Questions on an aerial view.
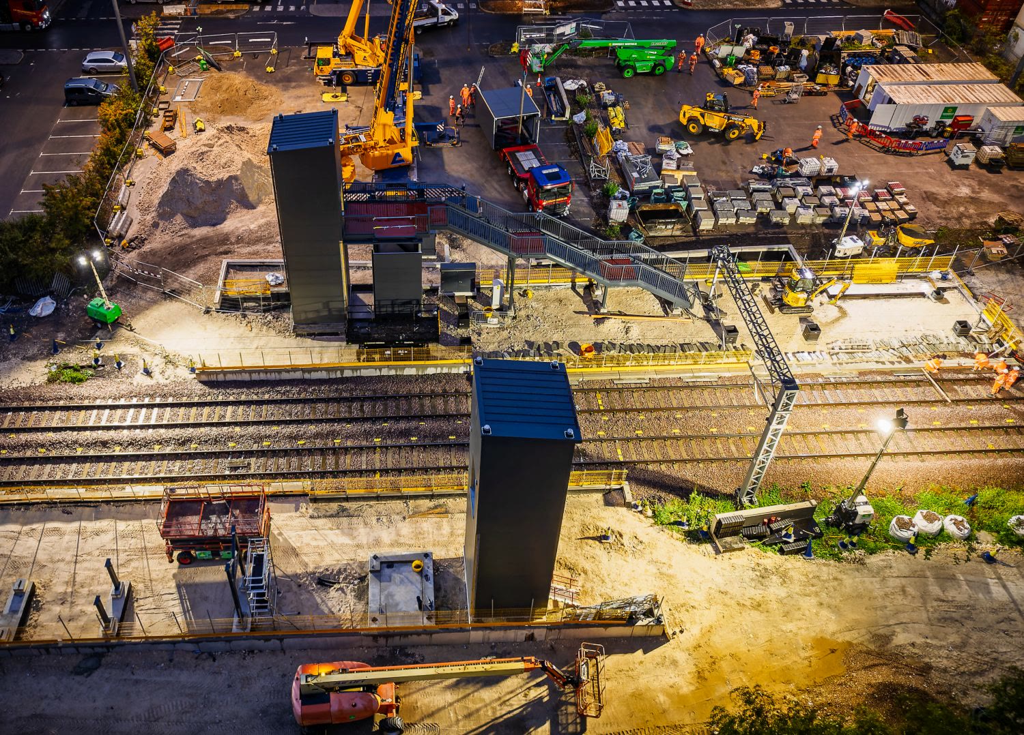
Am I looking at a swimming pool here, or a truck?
truck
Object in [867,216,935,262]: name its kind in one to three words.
truck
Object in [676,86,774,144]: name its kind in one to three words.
work vehicle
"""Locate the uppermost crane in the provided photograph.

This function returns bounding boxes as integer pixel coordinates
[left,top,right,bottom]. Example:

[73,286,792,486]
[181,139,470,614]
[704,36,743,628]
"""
[276,0,452,92]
